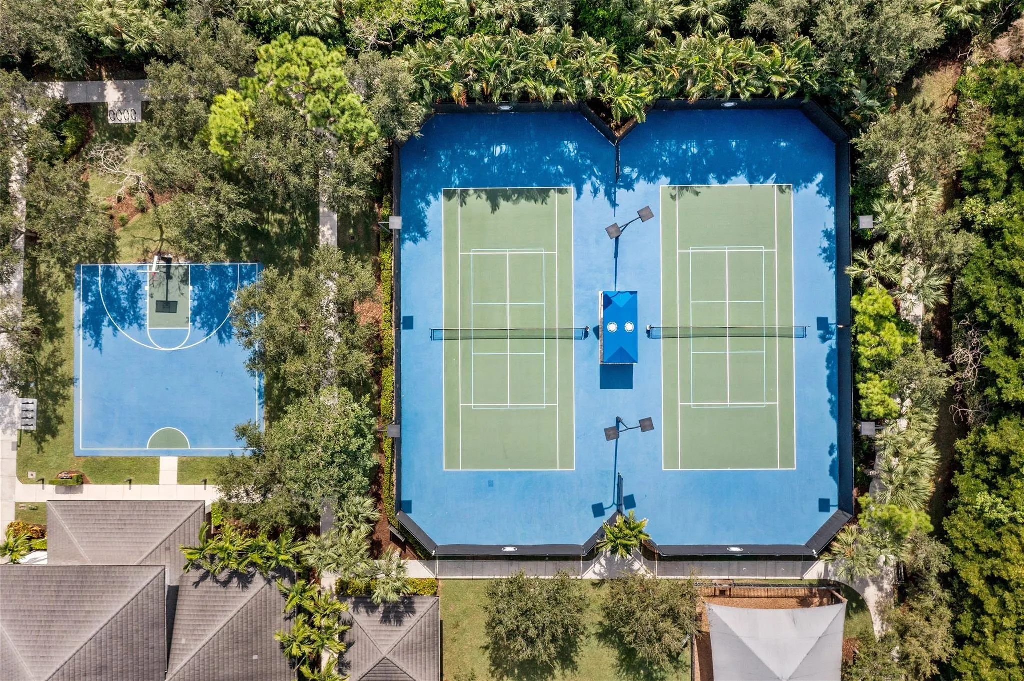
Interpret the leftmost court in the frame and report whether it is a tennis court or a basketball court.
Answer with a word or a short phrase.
basketball court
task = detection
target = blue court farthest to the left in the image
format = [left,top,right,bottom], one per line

[74,261,264,456]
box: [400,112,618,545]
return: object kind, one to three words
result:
tennis court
